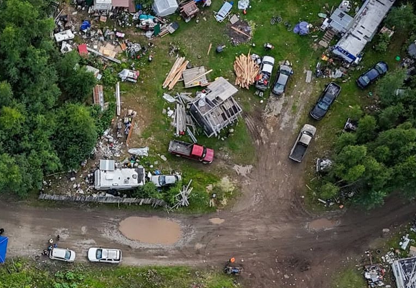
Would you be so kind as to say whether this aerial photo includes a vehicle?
Yes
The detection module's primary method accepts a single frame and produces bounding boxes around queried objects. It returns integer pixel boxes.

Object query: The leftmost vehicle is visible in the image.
[48,245,75,264]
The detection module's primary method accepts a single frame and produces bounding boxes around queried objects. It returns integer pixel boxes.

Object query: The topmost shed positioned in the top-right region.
[322,9,350,38]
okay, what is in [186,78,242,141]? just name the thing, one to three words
building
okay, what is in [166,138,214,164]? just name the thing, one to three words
truck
